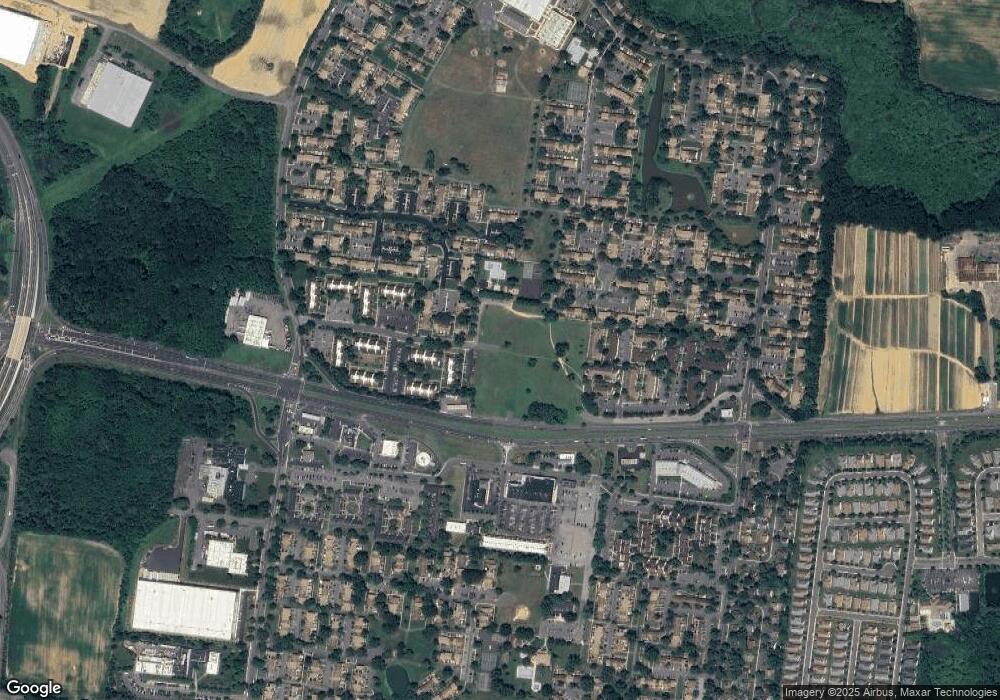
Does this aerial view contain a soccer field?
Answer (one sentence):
No, the photo shows no soccer field.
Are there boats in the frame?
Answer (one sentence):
No, I can see no boat in this picture.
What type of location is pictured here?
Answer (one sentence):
This image shows a residential area.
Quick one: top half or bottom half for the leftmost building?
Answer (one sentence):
The leftmost building is in the top half of the image.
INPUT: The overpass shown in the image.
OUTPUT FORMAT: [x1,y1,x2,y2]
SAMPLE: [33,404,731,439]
[5,315,30,361]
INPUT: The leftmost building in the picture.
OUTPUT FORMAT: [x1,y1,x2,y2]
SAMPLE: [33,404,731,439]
[0,8,38,64]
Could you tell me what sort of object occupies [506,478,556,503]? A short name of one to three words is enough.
building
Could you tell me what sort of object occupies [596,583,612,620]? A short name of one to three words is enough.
house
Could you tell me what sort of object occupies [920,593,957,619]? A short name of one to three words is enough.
building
